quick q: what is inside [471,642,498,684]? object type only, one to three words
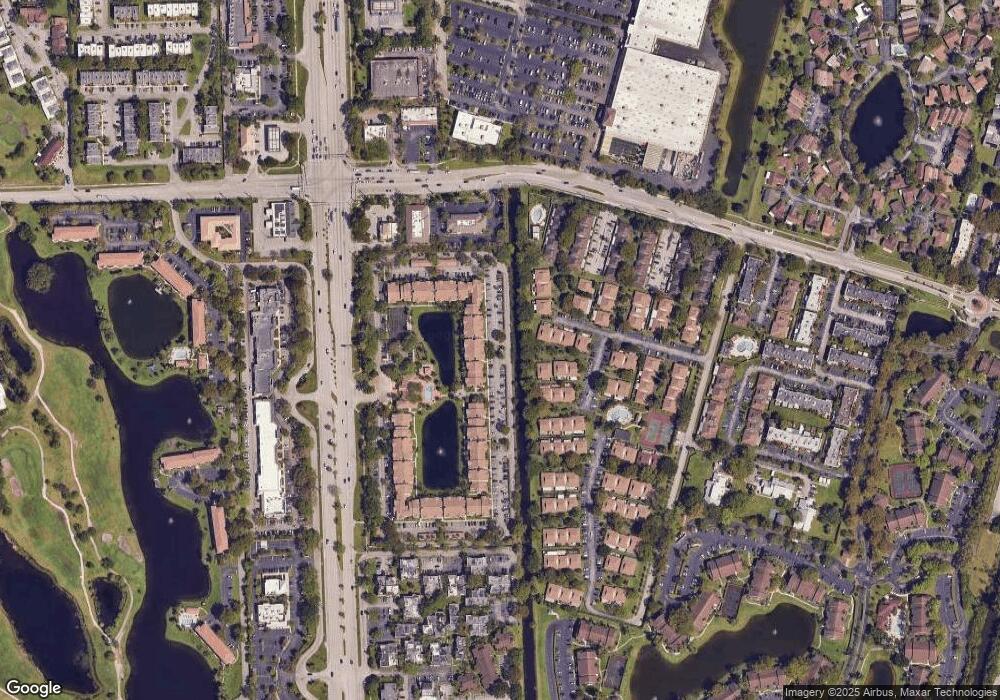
house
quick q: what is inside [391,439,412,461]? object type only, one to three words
building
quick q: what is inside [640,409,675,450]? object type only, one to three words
tennis court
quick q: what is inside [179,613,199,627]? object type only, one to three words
swimming pool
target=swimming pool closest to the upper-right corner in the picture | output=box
[730,336,756,358]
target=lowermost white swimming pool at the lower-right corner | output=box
[888,605,907,640]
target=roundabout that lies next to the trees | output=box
[951,286,1000,322]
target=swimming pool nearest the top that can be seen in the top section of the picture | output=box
[528,204,546,225]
